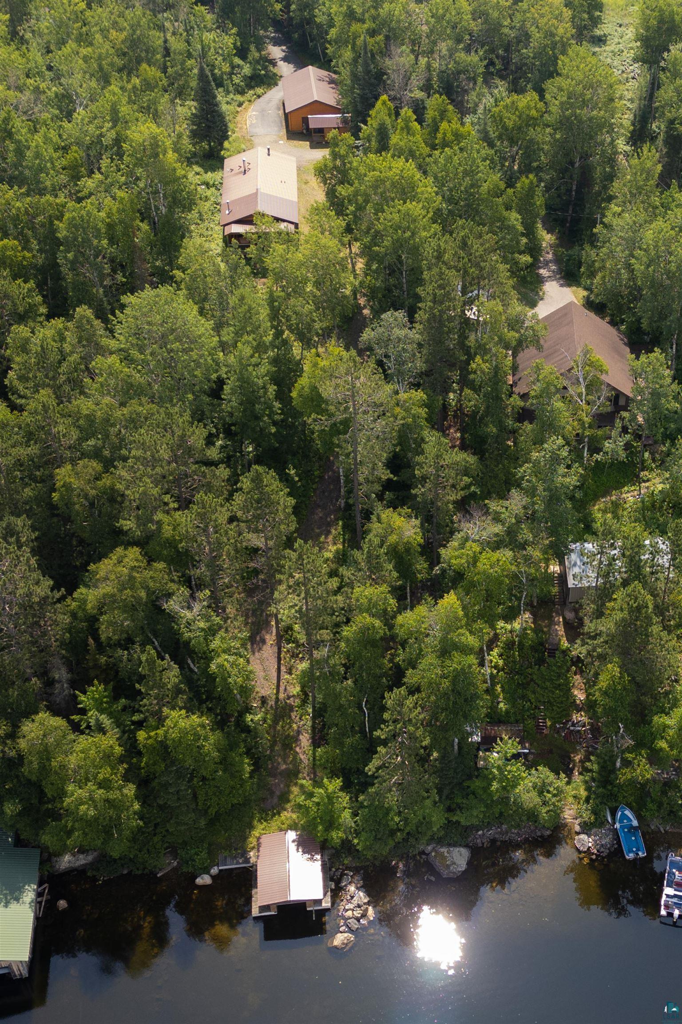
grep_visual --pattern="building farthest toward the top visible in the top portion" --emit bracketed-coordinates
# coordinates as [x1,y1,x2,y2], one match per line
[281,66,351,138]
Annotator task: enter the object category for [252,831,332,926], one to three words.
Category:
building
